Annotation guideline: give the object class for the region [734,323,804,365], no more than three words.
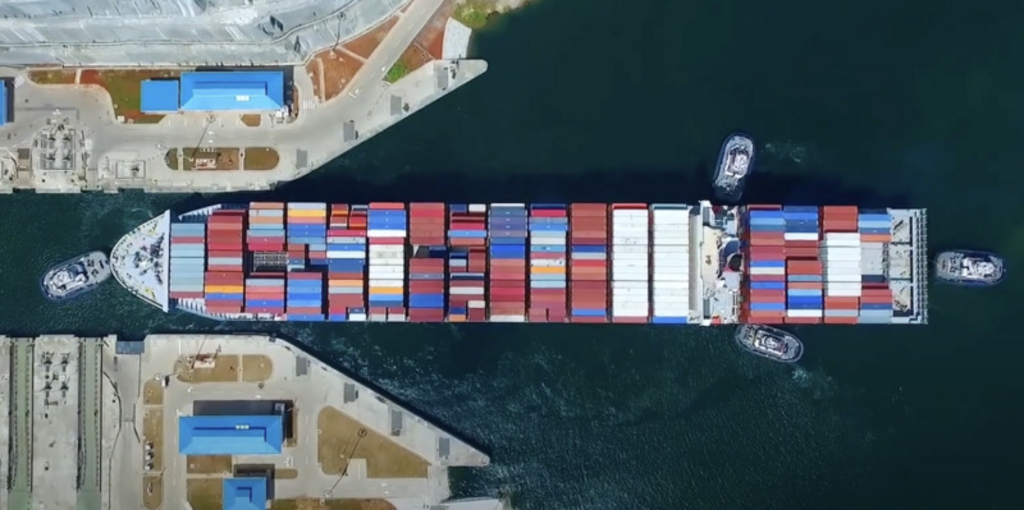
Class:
boat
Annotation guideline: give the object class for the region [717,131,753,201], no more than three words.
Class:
boat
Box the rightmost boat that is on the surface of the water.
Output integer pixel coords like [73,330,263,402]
[934,251,1007,285]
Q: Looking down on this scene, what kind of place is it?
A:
port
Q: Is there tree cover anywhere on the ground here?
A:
No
